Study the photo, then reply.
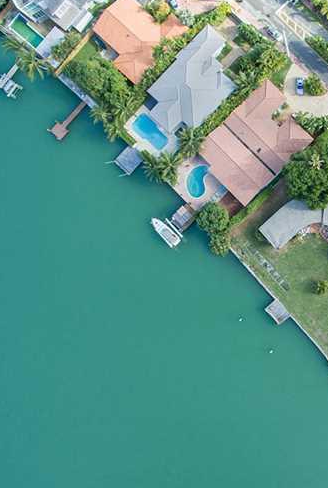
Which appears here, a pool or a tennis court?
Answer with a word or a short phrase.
pool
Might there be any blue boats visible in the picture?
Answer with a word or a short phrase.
No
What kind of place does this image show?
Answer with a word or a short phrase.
residential area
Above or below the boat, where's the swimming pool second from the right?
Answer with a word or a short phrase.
above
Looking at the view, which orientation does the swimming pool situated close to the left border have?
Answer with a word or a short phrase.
diagonally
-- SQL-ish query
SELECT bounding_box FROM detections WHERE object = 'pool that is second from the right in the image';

[132,112,169,151]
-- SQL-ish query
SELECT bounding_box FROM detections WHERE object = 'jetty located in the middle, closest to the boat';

[172,205,198,233]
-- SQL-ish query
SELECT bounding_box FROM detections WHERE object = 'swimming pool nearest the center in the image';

[184,163,212,199]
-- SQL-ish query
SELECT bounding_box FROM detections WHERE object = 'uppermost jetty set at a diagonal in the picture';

[48,103,90,141]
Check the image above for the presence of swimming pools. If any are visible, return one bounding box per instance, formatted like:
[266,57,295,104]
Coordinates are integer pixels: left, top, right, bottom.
[184,163,212,199]
[132,112,169,151]
[7,13,46,51]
